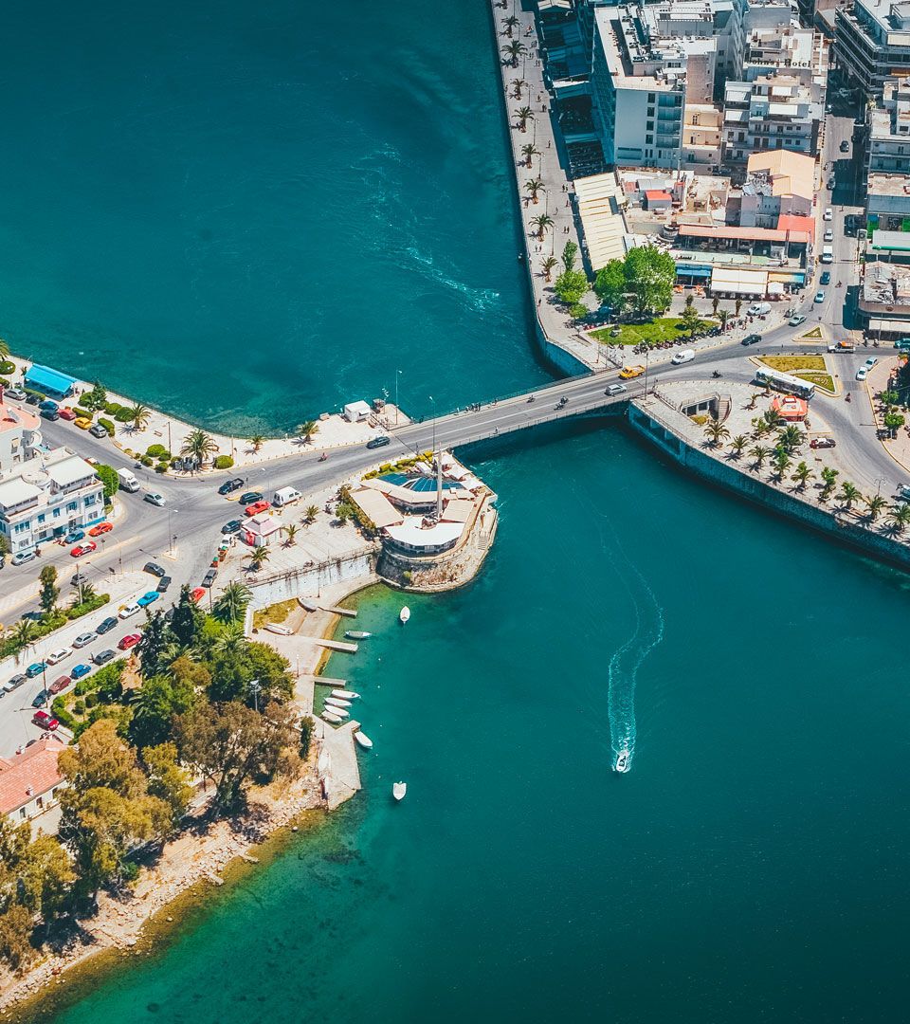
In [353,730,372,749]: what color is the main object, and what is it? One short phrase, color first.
white boat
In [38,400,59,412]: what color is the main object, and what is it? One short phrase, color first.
blue vehicle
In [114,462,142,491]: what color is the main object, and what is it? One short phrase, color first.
white truck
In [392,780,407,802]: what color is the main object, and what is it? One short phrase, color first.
white boat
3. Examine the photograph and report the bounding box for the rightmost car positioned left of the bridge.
[366,435,391,449]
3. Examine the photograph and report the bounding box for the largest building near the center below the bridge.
[350,451,494,558]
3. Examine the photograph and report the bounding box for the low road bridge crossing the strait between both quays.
[408,367,632,457]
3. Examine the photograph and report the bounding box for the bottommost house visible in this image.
[0,738,61,832]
